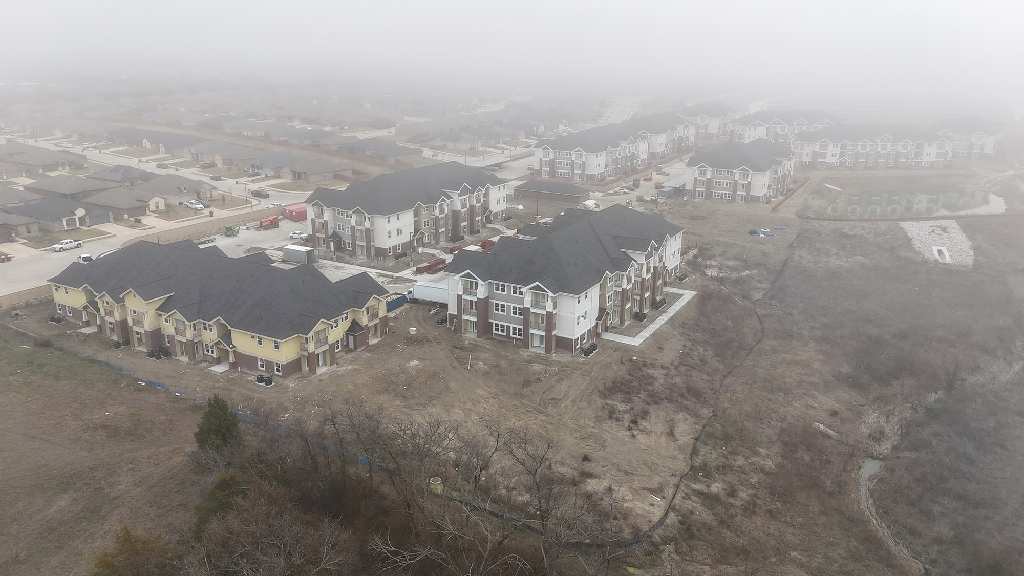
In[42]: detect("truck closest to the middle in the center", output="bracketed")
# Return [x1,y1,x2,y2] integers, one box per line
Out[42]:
[406,278,447,305]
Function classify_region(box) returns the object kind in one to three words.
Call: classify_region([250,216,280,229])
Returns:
vehicle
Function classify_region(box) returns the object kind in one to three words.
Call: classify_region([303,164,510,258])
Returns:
building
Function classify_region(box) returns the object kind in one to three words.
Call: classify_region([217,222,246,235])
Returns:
vehicle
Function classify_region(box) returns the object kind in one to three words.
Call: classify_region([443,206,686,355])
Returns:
building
